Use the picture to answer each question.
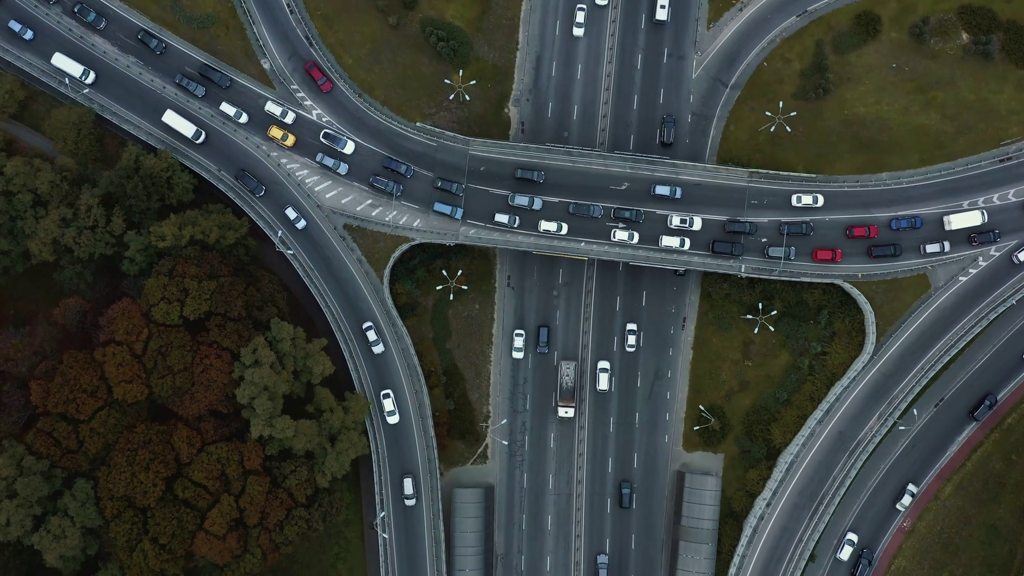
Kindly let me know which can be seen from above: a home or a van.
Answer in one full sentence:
The one in the frame is a van.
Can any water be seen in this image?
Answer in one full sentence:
No, the scene doesn't show any water.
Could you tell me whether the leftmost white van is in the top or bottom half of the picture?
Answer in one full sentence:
The leftmost white van is in the top half of the image.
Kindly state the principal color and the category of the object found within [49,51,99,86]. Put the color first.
white van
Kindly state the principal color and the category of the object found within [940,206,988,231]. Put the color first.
white truck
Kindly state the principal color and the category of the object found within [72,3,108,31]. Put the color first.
black car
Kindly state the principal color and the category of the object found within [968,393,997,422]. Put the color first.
black car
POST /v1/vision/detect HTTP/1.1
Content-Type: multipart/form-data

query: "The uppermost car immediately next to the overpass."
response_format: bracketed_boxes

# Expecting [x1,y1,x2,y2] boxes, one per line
[660,114,676,146]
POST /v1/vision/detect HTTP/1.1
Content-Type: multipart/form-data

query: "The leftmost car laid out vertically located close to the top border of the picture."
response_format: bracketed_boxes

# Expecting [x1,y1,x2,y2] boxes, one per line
[572,5,586,37]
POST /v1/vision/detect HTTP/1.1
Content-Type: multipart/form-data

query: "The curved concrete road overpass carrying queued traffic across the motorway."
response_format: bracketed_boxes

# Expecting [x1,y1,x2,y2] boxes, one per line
[460,136,749,278]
